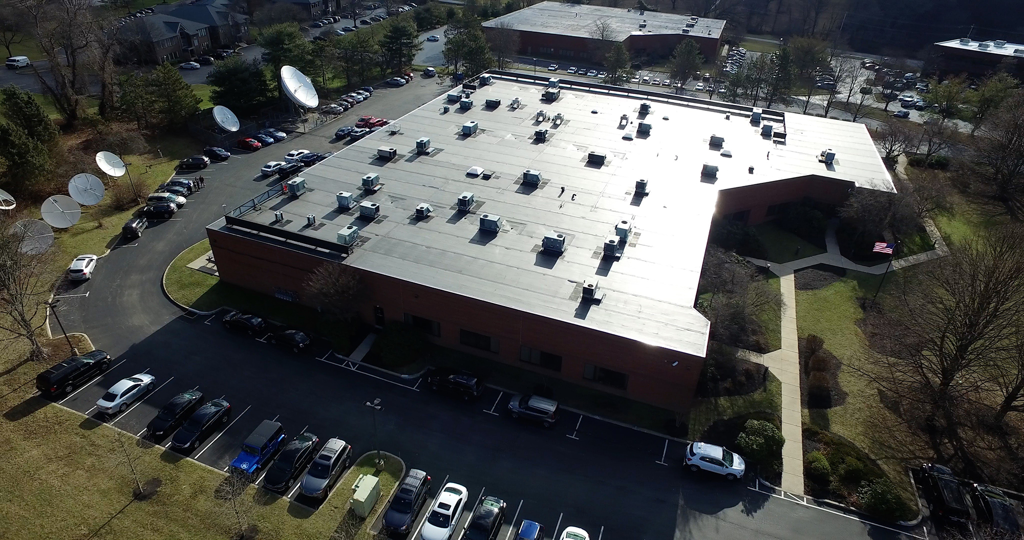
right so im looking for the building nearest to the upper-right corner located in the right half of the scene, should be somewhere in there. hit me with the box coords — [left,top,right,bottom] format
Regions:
[924,39,1024,87]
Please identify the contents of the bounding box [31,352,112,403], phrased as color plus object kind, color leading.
black car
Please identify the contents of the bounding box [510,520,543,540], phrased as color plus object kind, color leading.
blue car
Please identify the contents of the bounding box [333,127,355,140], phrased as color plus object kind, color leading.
black vehicle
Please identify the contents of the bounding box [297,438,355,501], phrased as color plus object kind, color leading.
black car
